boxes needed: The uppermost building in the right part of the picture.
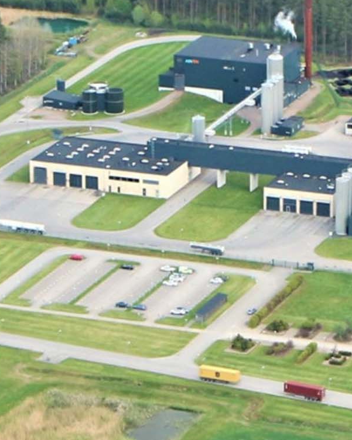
[156,34,311,108]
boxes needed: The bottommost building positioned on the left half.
[30,137,207,198]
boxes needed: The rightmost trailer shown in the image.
[284,380,329,400]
